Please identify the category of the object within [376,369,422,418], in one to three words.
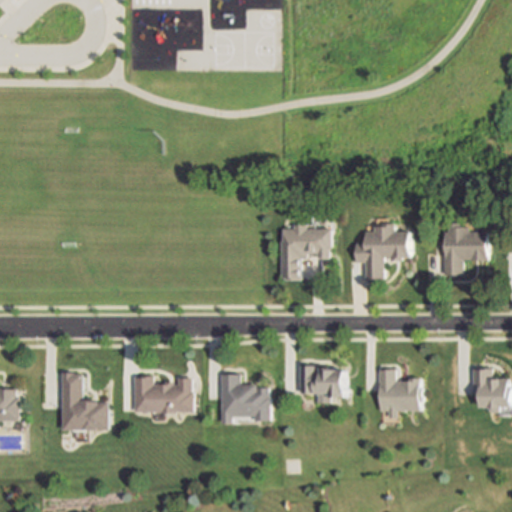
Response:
house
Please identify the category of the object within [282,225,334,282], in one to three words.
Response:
house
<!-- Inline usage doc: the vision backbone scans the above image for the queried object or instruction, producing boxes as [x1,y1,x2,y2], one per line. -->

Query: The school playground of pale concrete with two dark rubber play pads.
[131,0,282,72]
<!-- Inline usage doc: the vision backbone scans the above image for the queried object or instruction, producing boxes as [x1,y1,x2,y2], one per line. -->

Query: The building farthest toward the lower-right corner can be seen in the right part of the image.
[473,368,512,414]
